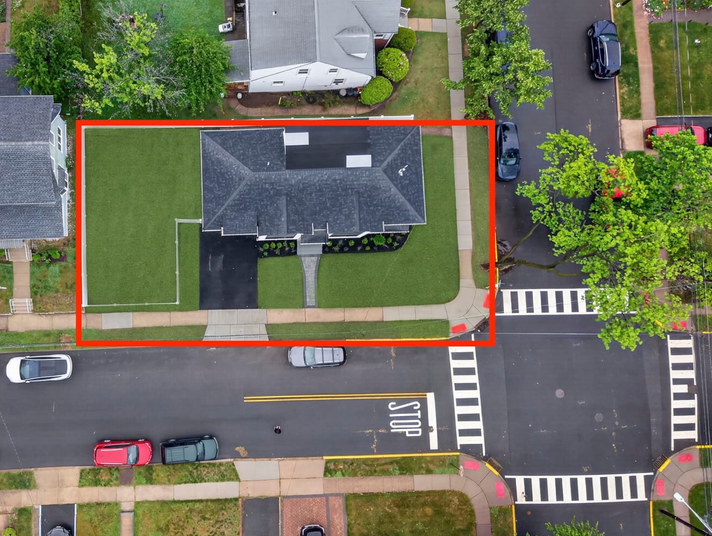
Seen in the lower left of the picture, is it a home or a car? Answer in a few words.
car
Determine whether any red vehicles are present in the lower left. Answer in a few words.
Yes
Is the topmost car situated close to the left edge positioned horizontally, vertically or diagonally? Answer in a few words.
horizontally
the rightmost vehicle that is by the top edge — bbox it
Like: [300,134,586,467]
[584,17,625,82]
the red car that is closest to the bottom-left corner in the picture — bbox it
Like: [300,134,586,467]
[92,438,156,469]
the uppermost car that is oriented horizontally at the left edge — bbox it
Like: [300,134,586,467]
[5,354,74,384]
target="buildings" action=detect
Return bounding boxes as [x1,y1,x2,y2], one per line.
[224,0,401,98]
[199,123,428,255]
[0,52,76,261]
